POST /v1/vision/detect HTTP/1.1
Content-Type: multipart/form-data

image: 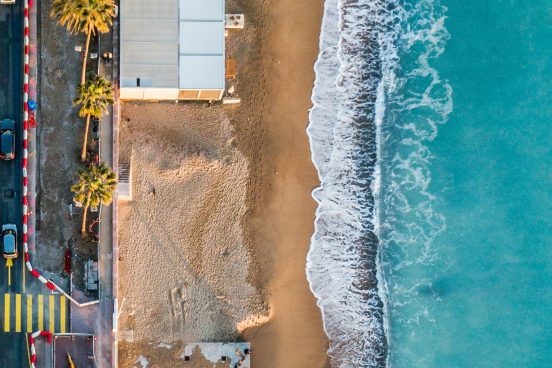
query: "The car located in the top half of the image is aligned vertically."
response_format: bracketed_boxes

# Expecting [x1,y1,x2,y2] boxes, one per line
[0,123,17,160]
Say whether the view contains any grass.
No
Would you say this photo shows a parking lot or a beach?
beach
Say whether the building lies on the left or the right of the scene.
left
